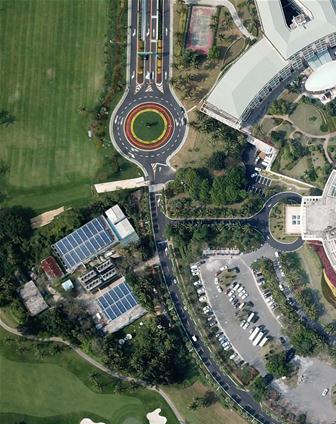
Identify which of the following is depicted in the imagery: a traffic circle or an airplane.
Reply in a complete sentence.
There is a traffic circle in the scene.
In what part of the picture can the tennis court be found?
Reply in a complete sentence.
You can find the tennis court in the top area of the picture.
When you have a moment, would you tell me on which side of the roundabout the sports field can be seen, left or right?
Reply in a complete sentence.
Looking at the picture, you'll find the sports field to the left of the roundabout.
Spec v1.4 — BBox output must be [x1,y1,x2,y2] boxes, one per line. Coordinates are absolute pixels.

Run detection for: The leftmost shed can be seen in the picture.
[20,281,53,314]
